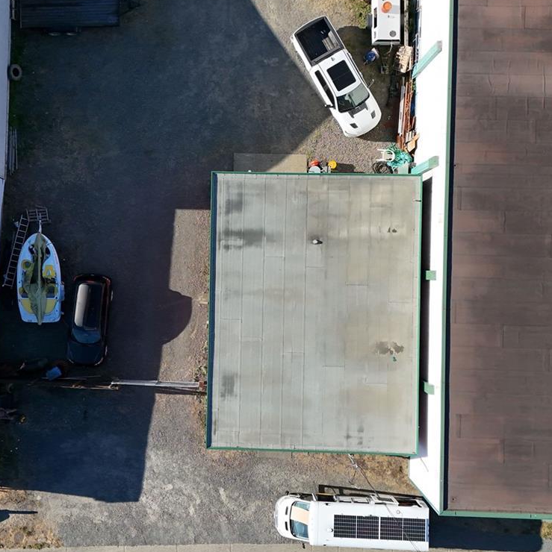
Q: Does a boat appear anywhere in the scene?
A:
Yes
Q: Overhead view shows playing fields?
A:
No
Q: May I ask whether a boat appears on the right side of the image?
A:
No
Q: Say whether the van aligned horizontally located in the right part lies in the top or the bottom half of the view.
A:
bottom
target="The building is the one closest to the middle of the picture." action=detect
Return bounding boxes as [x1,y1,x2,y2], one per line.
[207,173,421,455]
